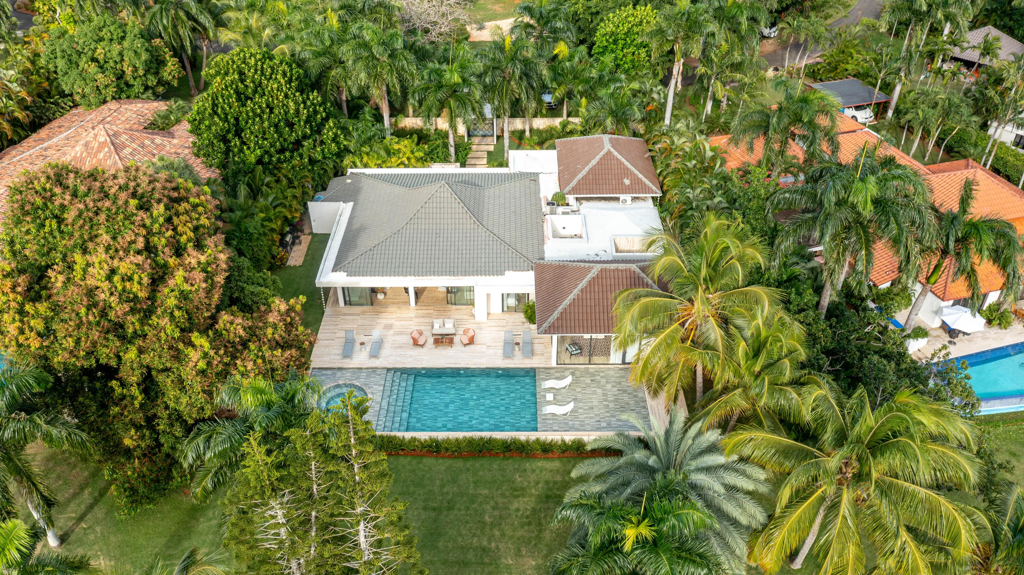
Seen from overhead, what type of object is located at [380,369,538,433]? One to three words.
swimming pool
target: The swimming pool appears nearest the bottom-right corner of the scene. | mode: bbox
[924,342,1024,431]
